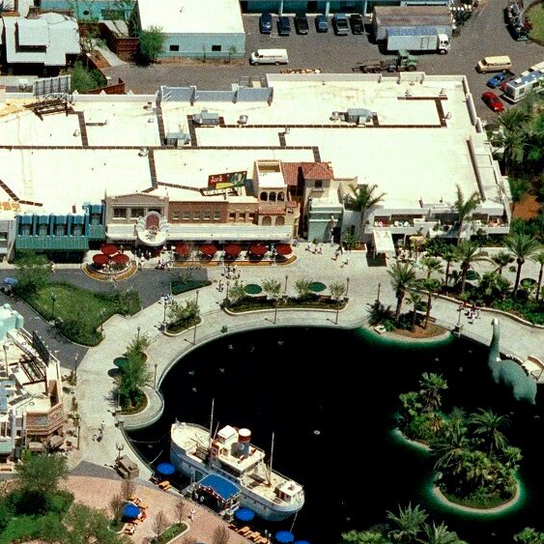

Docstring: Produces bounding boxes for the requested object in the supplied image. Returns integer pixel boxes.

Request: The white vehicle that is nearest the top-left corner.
[251,43,287,61]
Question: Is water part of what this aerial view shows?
Yes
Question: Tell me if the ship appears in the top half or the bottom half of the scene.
bottom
